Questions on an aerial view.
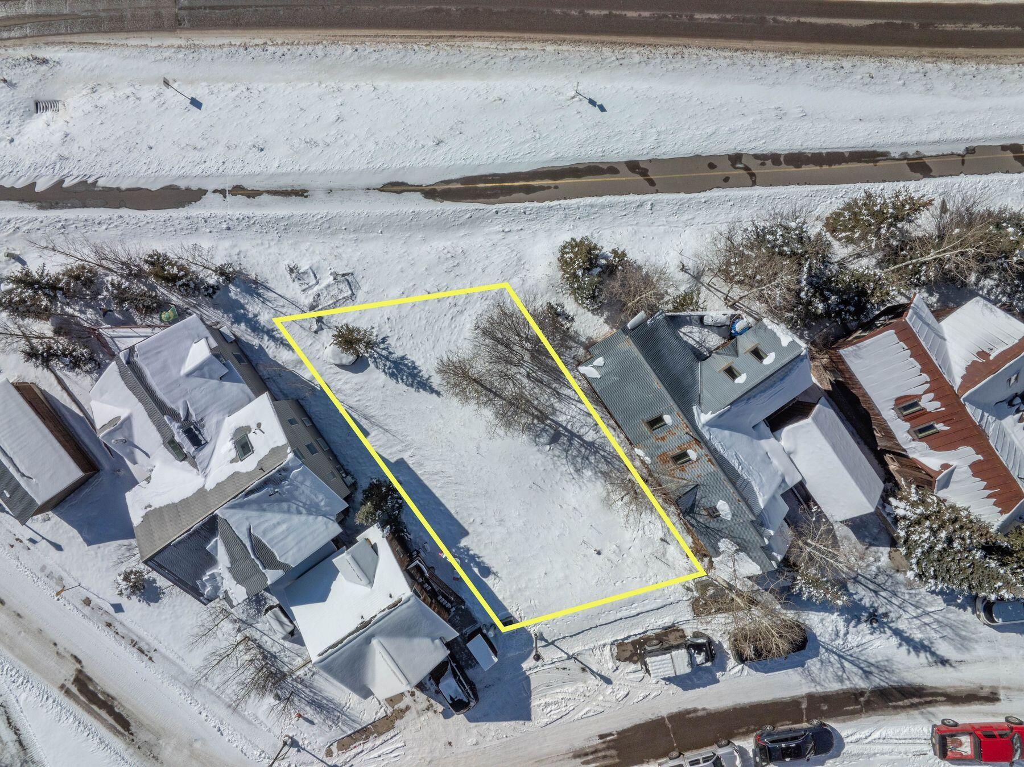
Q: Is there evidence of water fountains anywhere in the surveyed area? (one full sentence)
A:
No, the frame has no water fountain in it.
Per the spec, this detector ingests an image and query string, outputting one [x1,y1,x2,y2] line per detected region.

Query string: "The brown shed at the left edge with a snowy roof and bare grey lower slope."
[0,378,103,526]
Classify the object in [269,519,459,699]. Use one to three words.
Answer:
house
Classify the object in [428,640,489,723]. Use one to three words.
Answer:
car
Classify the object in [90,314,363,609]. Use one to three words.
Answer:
house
